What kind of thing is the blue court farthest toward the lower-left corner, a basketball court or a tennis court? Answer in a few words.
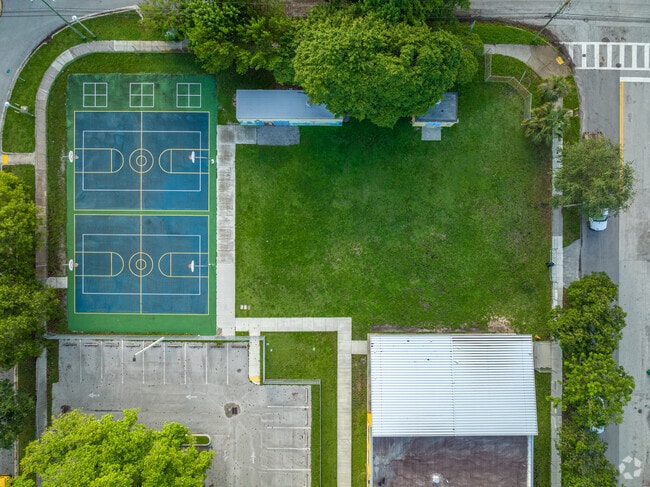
basketball court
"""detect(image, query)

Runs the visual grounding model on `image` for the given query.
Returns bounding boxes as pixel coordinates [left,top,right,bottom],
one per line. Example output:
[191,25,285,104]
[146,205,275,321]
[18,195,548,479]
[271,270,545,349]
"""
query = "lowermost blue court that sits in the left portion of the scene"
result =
[74,215,209,314]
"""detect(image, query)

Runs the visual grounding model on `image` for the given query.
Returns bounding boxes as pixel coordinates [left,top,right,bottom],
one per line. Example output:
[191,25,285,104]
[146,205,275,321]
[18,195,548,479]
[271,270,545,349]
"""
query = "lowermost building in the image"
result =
[367,331,539,487]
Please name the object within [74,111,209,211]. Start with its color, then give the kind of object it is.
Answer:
blue basketball court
